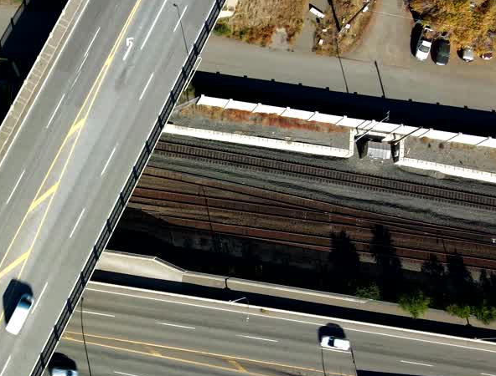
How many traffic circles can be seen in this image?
0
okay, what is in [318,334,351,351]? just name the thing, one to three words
car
